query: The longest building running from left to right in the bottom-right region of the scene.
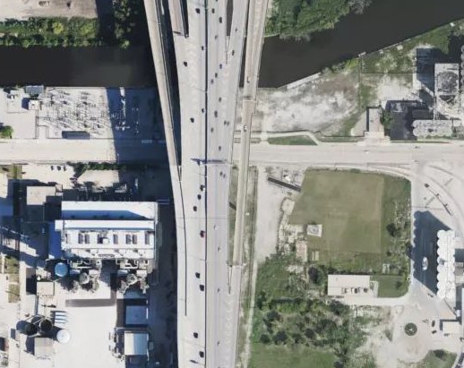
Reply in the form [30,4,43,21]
[329,275,377,297]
